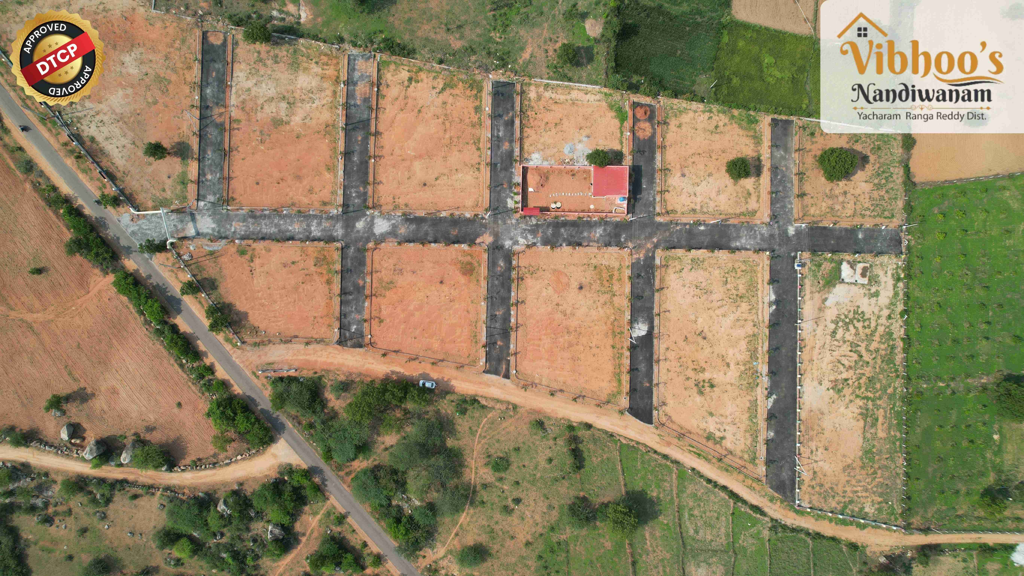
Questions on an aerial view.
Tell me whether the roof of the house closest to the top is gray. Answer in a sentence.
No, the roof of the house closest to the top is red.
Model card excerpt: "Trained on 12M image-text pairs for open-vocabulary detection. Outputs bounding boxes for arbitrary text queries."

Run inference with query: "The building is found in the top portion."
[592,165,629,198]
